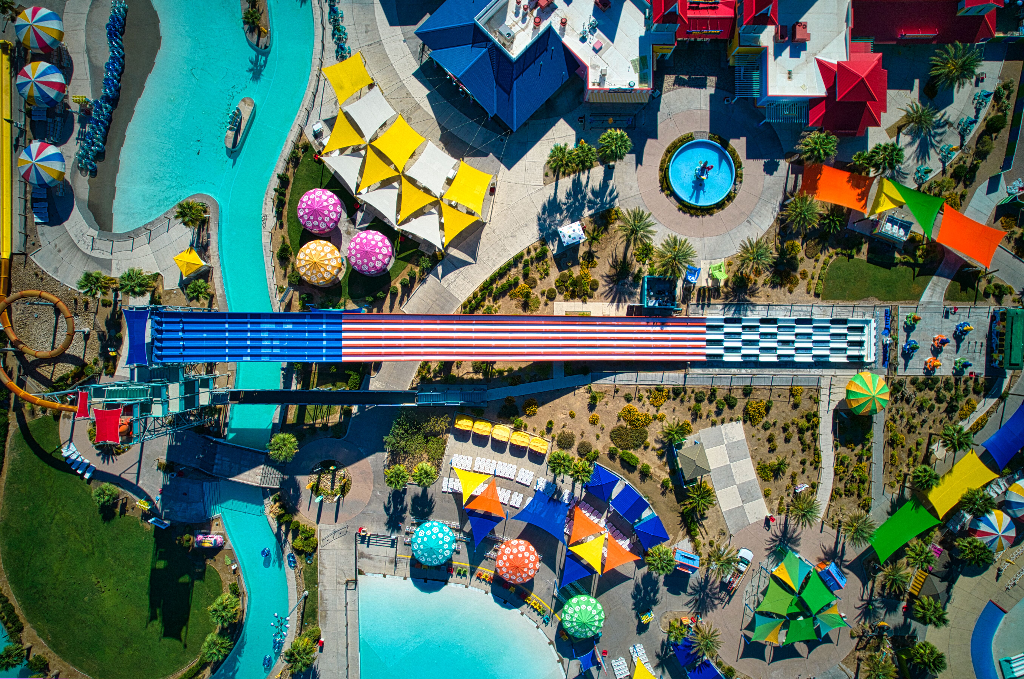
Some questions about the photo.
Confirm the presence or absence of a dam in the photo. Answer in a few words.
No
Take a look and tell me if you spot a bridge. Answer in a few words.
Yes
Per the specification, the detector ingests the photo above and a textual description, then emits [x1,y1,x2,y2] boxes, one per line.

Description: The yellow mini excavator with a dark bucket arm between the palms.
[867,615,895,650]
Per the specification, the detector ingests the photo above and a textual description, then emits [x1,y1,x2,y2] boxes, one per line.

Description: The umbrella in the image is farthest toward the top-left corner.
[15,5,66,55]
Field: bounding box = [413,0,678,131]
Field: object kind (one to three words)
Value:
building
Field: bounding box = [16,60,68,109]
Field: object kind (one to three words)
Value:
umbrella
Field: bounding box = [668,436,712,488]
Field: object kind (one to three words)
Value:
building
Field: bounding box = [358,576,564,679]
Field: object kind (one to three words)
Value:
swimming pool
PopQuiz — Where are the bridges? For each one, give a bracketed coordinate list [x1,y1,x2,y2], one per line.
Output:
[168,431,283,491]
